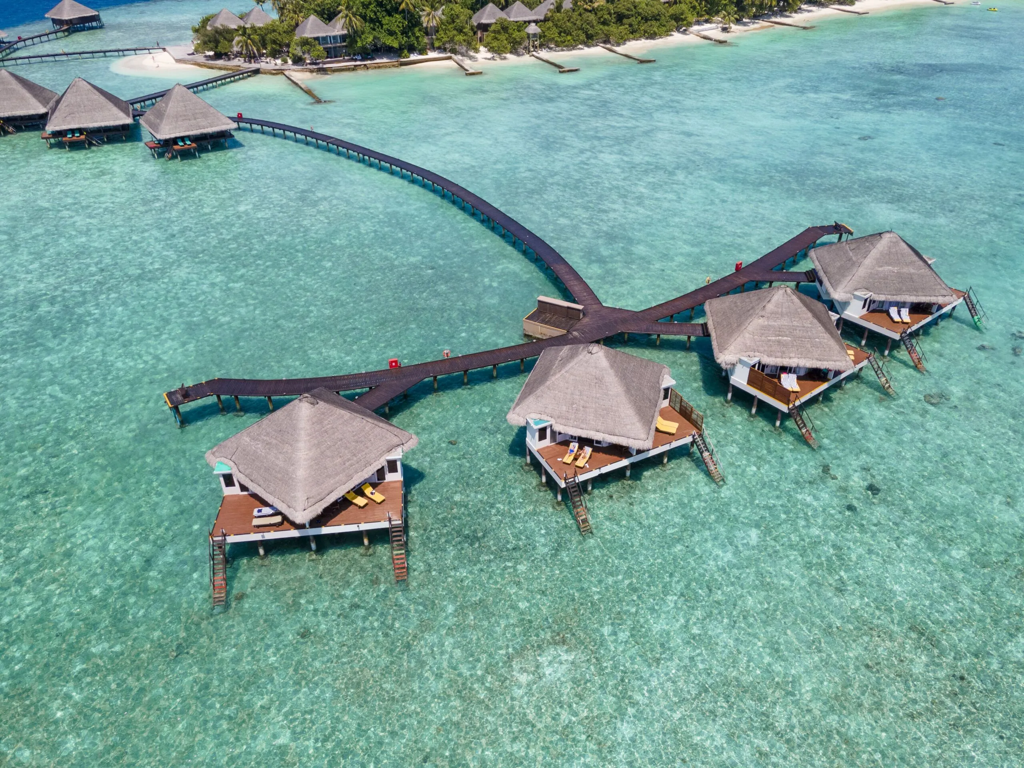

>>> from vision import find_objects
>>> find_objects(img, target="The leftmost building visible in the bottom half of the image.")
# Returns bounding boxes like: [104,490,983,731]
[203,385,421,614]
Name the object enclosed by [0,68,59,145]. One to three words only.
house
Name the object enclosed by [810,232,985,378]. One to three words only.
house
